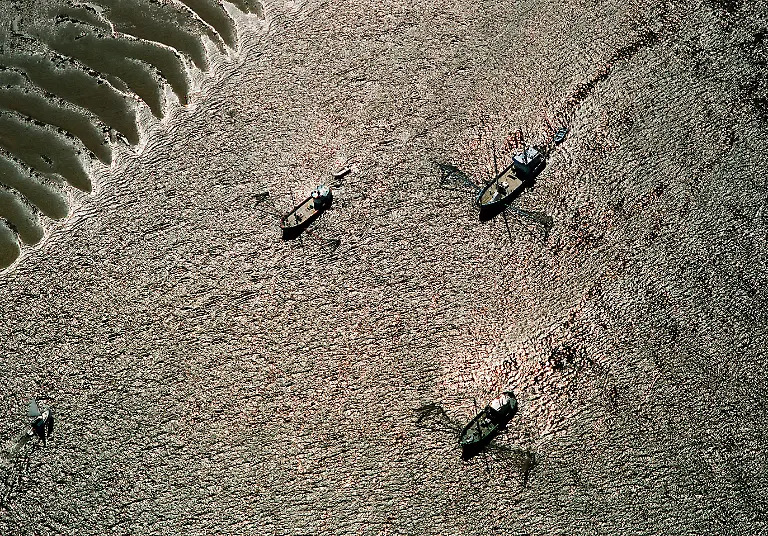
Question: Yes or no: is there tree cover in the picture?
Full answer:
No, there is no tree cover in the image.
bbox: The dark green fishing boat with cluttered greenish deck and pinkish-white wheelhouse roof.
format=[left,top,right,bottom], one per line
[416,391,537,474]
